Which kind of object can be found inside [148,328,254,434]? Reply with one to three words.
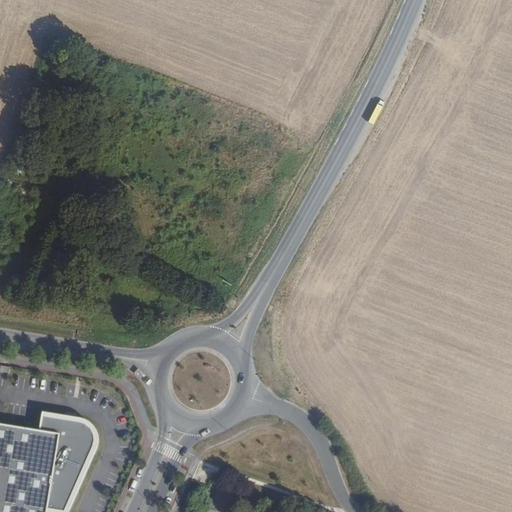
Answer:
roundabout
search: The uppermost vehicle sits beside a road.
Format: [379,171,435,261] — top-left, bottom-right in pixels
[368,97,384,124]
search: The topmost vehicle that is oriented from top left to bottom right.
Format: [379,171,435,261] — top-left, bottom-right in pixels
[133,368,151,385]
